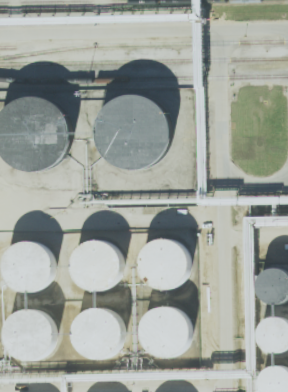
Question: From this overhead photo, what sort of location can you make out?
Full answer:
The area seen from above is an industrial area.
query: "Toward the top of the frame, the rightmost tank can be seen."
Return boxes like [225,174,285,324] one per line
[93,95,174,174]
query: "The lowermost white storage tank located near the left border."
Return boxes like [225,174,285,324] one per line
[2,310,57,362]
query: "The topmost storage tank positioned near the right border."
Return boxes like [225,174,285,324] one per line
[254,268,288,308]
